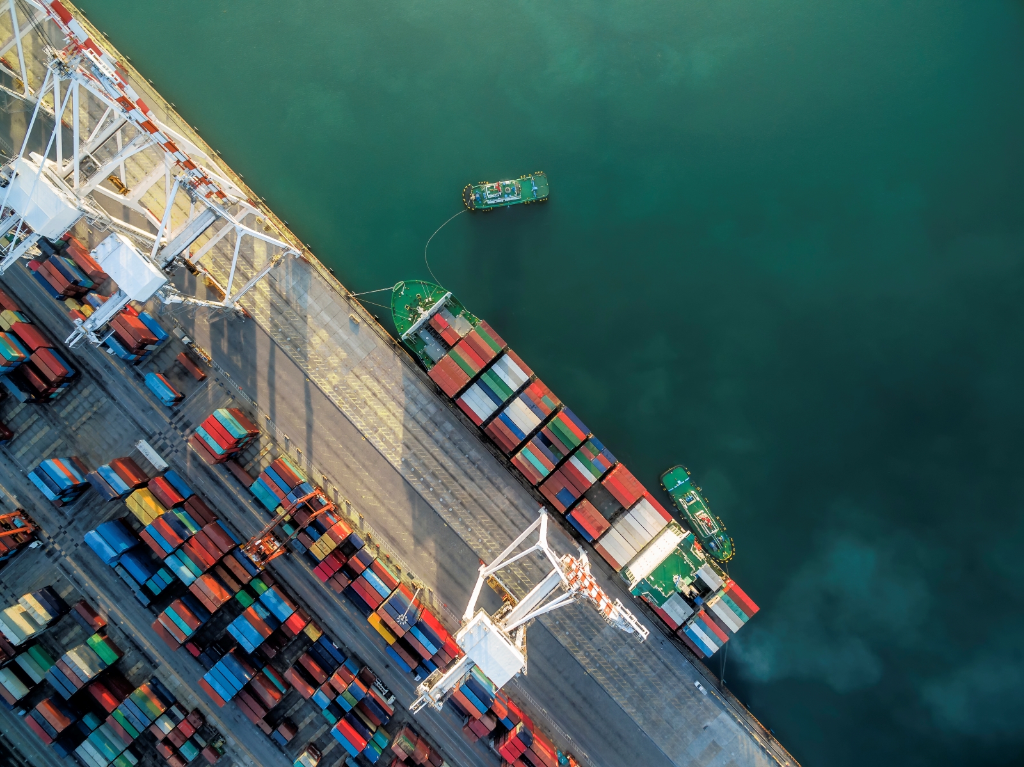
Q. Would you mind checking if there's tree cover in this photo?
No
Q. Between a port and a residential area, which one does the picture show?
port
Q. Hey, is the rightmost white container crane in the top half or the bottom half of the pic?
bottom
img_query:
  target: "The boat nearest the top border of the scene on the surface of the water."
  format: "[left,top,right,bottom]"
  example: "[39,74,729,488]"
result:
[462,169,549,211]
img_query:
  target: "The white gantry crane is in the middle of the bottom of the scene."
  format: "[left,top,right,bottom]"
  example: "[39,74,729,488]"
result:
[406,504,654,728]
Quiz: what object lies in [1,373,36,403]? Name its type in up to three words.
shipping container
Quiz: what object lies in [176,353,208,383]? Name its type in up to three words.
shipping container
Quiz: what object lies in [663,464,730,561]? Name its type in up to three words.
boat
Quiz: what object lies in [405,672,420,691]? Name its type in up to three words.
vehicle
